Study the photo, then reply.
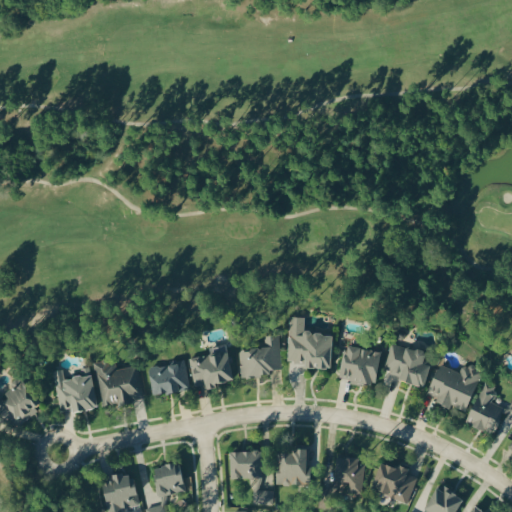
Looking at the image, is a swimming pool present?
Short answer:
Yes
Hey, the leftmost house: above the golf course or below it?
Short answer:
below it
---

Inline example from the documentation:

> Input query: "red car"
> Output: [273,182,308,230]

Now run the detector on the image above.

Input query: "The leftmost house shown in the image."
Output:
[0,382,38,420]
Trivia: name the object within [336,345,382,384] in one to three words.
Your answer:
house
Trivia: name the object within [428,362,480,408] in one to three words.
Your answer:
house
